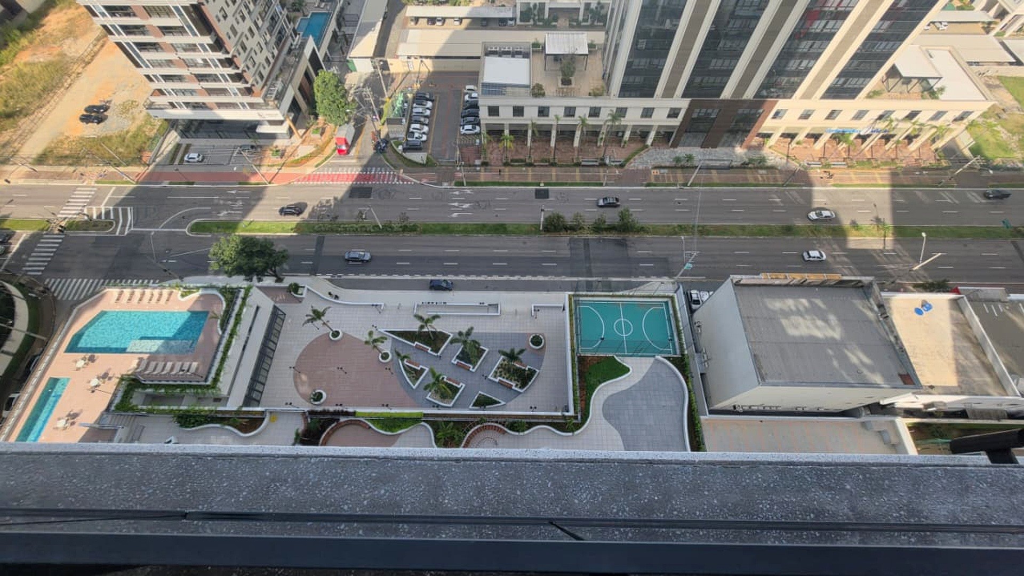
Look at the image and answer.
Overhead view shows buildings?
Yes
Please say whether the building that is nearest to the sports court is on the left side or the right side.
right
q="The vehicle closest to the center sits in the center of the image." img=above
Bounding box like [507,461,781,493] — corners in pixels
[429,279,453,291]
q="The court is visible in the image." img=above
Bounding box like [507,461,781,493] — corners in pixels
[576,301,680,356]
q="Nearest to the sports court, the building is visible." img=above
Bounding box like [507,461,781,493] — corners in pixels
[694,270,923,409]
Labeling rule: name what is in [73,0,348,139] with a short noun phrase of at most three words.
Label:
building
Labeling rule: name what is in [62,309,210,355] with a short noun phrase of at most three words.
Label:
swimming pool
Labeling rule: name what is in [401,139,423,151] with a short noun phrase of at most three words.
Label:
vehicle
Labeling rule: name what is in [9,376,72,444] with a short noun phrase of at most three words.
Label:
swimming pool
